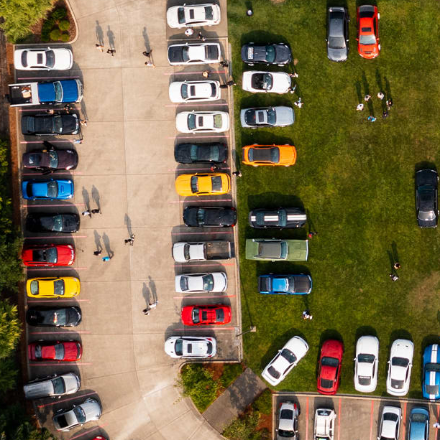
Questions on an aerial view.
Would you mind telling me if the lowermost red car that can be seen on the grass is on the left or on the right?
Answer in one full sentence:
The lowermost red car that can be seen on the grass is on the right side of the image.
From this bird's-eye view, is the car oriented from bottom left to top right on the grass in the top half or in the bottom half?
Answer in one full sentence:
Seen from above, the car oriented from bottom left to top right on the grass lies in the bottom half of the view.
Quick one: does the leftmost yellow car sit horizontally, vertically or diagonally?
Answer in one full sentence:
What the image shows is the leftmost yellow car lying horizontally.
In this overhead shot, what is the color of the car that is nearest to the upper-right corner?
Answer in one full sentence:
The color of the car that is nearest to the upper-right corner is red.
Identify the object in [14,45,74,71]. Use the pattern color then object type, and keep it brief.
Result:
white car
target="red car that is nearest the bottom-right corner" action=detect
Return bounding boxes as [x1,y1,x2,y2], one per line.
[317,338,345,395]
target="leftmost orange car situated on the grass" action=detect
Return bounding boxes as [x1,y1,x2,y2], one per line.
[241,141,298,168]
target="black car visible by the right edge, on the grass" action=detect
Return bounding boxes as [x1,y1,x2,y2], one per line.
[413,169,439,227]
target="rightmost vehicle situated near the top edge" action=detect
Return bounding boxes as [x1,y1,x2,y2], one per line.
[354,5,381,59]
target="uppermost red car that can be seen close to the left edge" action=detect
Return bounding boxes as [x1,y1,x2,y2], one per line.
[21,242,76,267]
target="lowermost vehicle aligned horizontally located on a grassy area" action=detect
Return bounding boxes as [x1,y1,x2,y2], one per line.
[256,271,313,296]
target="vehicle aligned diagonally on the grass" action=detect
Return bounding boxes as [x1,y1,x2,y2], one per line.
[262,335,308,389]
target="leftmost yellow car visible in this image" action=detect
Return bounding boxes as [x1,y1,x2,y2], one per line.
[25,274,82,300]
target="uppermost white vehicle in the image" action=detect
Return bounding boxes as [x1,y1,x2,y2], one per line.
[167,2,221,28]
